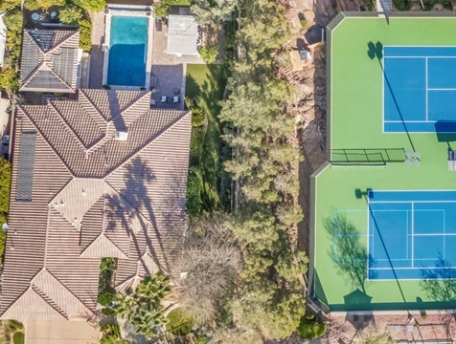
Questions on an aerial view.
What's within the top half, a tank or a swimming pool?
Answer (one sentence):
It is a swimming pool that can be seen within the top half.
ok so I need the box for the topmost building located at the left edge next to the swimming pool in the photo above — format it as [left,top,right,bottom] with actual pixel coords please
[18,28,86,93]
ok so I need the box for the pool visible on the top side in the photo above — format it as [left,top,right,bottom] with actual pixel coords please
[102,1,153,91]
